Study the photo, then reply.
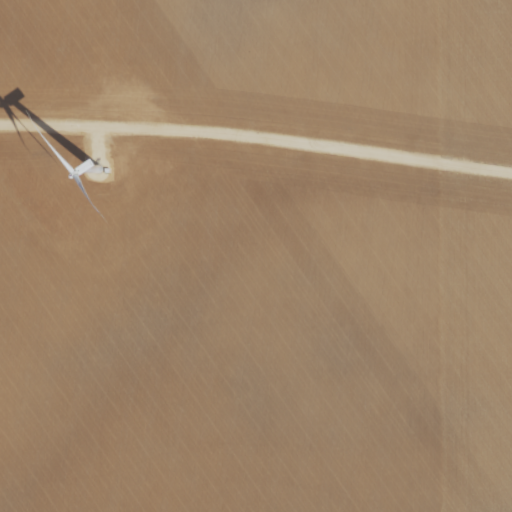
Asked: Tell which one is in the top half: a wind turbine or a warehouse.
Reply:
wind turbine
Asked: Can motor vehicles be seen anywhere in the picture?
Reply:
No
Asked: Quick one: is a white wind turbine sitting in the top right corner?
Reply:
No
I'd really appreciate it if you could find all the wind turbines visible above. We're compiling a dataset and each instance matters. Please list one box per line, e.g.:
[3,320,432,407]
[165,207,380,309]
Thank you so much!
[33,118,106,229]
